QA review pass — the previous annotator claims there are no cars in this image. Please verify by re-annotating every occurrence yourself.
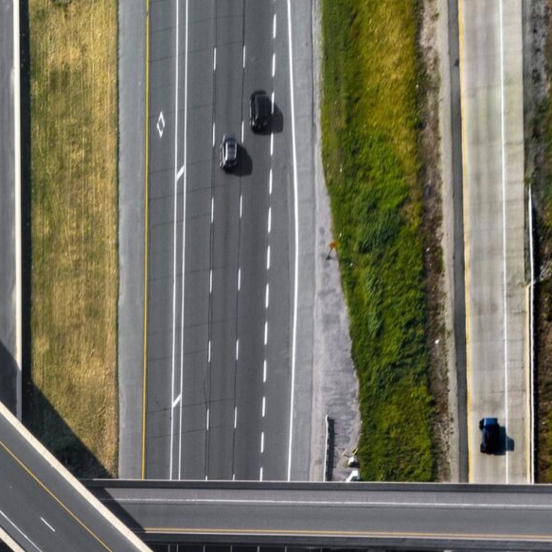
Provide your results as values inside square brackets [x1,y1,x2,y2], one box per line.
[478,419,499,452]
[250,94,270,131]
[219,136,237,169]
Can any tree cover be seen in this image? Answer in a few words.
No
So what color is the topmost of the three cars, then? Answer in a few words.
black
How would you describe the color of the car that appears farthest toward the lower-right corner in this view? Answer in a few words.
black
